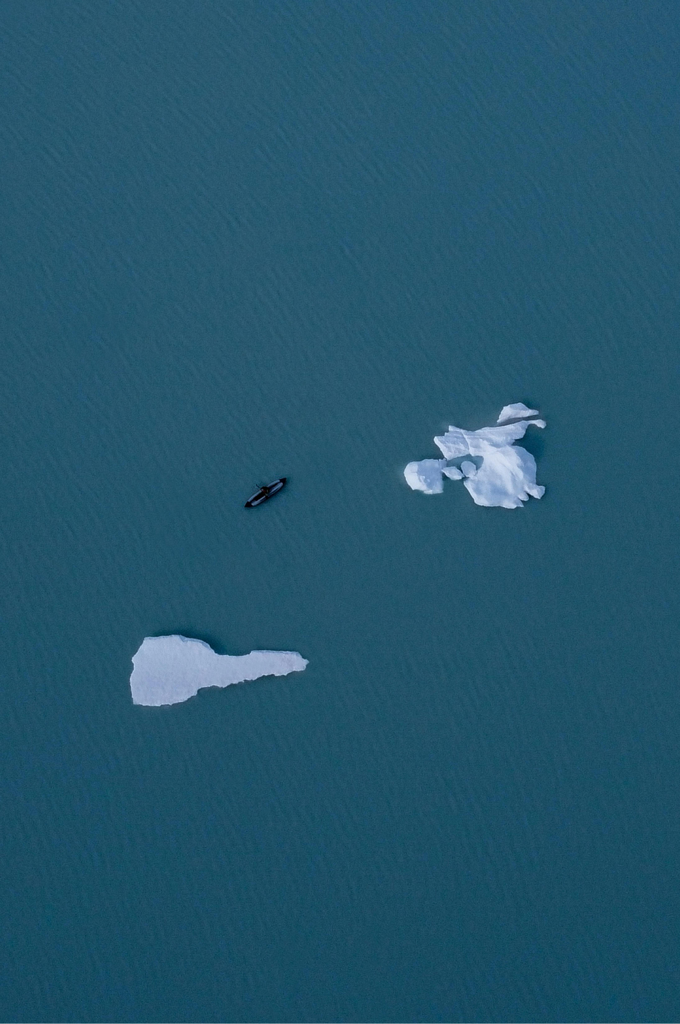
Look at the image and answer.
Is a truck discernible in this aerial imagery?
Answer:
No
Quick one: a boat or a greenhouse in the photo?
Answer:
boat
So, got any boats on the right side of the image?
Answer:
No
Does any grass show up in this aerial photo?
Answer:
No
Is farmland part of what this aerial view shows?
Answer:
No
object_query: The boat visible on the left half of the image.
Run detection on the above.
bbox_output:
[244,478,286,507]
